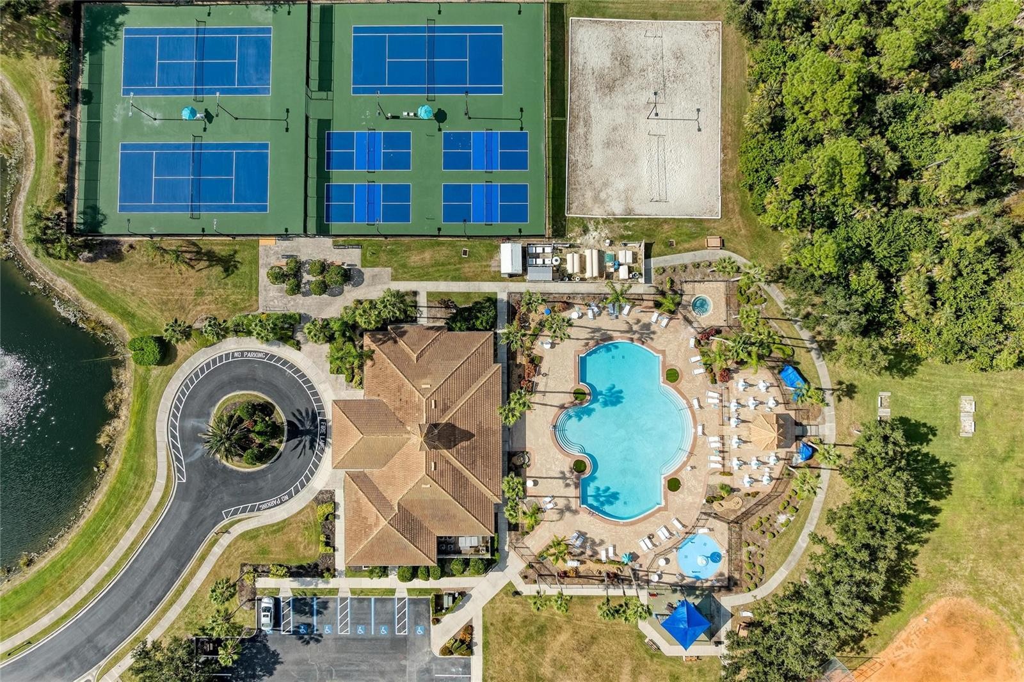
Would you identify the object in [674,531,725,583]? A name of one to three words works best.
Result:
swimming pool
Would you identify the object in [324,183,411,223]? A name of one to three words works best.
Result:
sports court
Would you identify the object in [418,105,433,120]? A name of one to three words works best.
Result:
umbrella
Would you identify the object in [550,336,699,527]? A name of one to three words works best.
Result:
swimming pool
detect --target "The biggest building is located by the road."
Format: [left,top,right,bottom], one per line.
[332,325,502,570]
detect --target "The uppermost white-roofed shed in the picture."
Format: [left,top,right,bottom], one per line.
[500,242,522,276]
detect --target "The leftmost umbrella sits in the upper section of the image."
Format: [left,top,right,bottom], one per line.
[183,107,198,121]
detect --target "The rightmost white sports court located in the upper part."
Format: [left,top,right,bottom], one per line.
[566,17,723,219]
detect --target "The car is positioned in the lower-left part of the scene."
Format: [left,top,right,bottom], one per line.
[258,599,273,631]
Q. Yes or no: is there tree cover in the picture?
Yes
